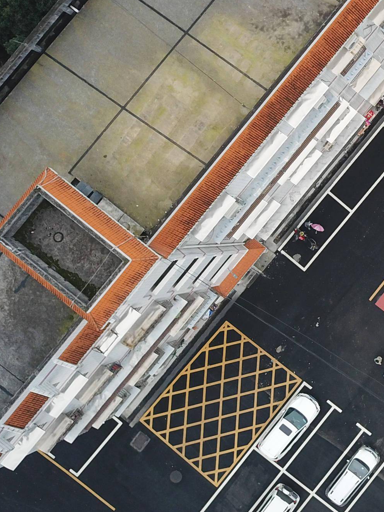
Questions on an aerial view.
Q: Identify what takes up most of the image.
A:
buildings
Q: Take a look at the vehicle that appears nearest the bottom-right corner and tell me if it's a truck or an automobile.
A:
automobile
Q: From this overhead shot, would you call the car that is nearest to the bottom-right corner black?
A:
No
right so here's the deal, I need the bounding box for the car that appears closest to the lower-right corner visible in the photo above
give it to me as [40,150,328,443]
[323,443,381,510]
